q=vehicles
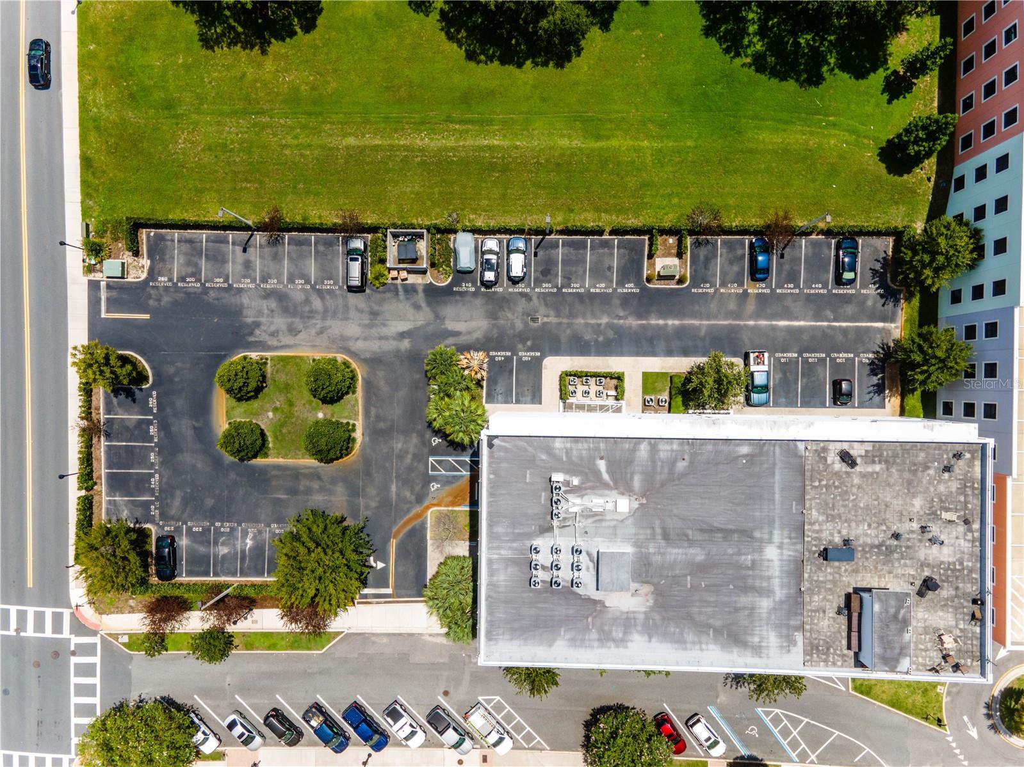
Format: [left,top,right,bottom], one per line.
[259,701,307,749]
[650,709,688,755]
[219,704,267,753]
[24,39,55,90]
[299,697,353,754]
[176,705,224,754]
[833,237,860,287]
[378,695,429,749]
[154,532,181,583]
[459,695,512,753]
[747,234,773,285]
[506,237,529,282]
[424,696,475,751]
[745,348,772,408]
[830,377,854,406]
[342,238,368,292]
[477,238,502,288]
[340,697,391,751]
[683,708,726,758]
